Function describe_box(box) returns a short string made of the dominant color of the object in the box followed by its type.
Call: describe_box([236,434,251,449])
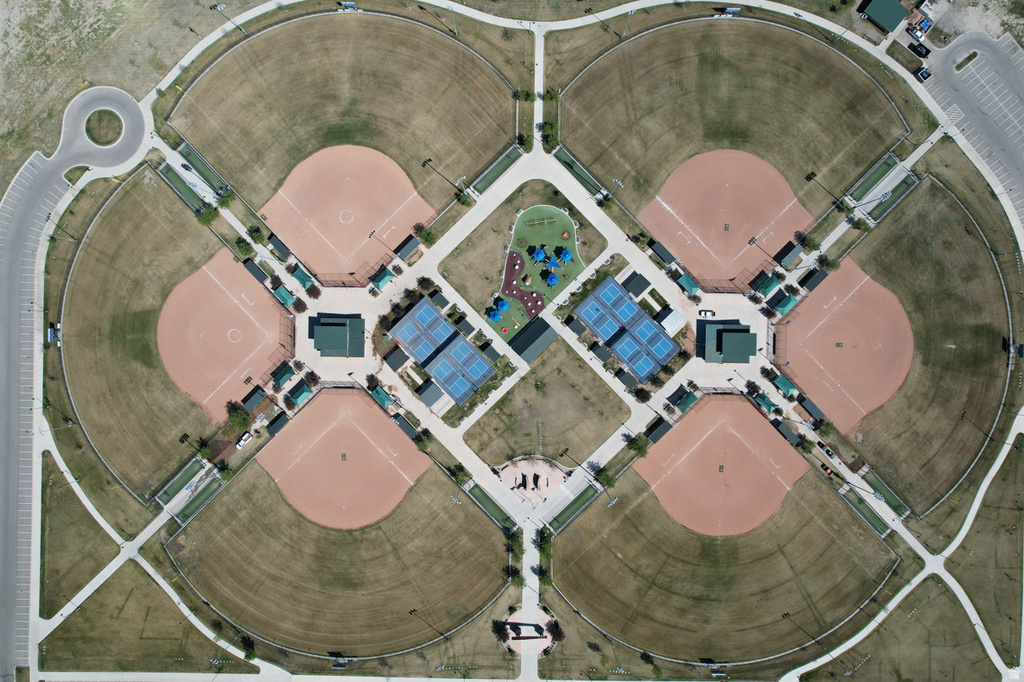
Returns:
white vehicle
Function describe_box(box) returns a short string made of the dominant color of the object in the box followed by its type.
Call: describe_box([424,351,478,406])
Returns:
blue sports court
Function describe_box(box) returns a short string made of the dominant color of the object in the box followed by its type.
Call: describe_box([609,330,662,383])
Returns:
blue sports court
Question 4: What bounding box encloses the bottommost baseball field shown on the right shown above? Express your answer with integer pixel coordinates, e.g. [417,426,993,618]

[549,394,913,664]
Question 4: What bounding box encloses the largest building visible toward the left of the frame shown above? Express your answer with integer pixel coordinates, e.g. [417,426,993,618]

[314,318,365,357]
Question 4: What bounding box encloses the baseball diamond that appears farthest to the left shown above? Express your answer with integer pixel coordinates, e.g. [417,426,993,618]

[62,164,295,504]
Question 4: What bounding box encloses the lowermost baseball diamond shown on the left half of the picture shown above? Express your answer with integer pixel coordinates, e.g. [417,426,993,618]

[137,390,544,658]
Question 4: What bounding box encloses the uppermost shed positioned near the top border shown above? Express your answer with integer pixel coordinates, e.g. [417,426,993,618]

[863,0,907,34]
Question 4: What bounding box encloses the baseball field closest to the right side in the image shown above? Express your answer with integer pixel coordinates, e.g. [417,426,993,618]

[775,177,1011,517]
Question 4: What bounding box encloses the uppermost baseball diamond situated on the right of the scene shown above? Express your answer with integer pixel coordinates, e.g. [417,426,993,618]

[543,18,909,293]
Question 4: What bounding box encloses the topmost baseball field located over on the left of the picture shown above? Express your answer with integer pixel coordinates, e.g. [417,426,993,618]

[154,12,530,286]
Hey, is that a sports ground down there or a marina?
sports ground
